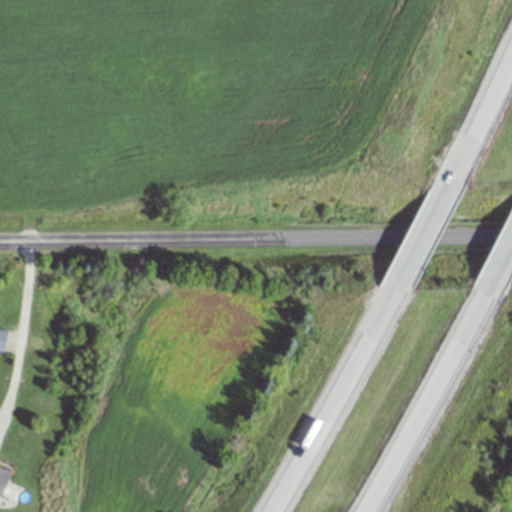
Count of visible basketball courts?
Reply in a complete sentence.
The photo contains no basketball courts.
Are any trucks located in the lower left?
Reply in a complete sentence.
No, there is no truck in the lower left.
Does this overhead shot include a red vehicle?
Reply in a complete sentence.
No, this view has no red vehicle in it.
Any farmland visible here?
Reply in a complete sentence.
Yes, there is farmland in the image.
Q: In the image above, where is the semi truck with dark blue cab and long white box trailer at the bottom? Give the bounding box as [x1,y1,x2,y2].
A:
[298,418,324,456]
